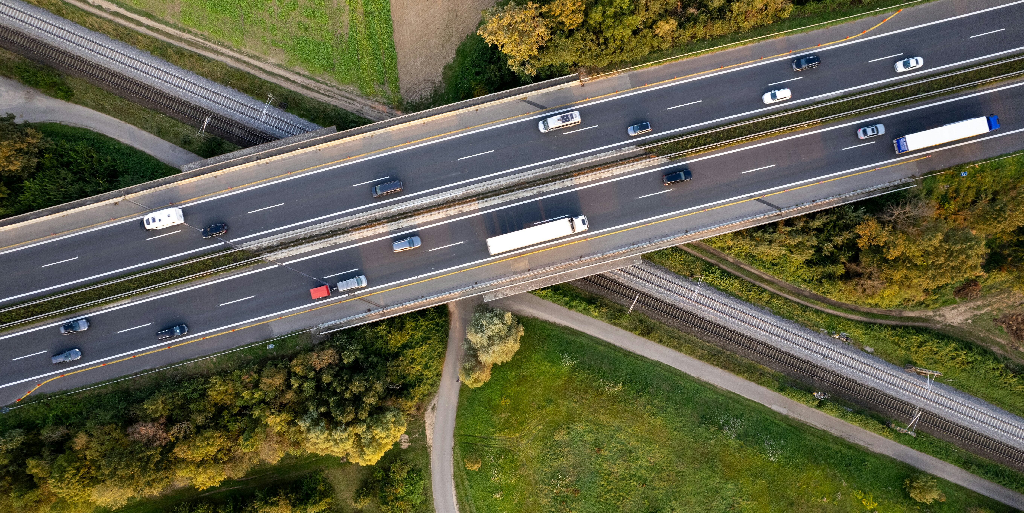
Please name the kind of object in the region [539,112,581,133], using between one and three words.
vehicle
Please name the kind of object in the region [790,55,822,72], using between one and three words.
car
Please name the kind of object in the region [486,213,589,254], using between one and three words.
truck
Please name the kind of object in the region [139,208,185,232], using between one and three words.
camper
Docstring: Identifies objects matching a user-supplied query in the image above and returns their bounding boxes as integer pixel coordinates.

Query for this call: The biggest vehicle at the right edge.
[891,114,1000,154]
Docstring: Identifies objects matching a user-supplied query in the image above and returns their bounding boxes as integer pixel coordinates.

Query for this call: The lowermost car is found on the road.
[52,348,83,365]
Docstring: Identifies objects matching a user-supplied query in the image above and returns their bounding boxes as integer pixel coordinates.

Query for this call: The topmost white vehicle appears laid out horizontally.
[892,56,924,73]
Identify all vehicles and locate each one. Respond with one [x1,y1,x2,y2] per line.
[486,213,589,254]
[661,169,692,186]
[157,324,189,341]
[335,274,368,292]
[391,236,421,252]
[855,123,885,139]
[371,180,403,197]
[626,121,652,137]
[60,319,91,335]
[891,114,1000,154]
[539,112,581,133]
[790,55,822,72]
[892,56,924,73]
[202,223,228,239]
[52,348,83,365]
[139,208,185,232]
[761,88,792,104]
